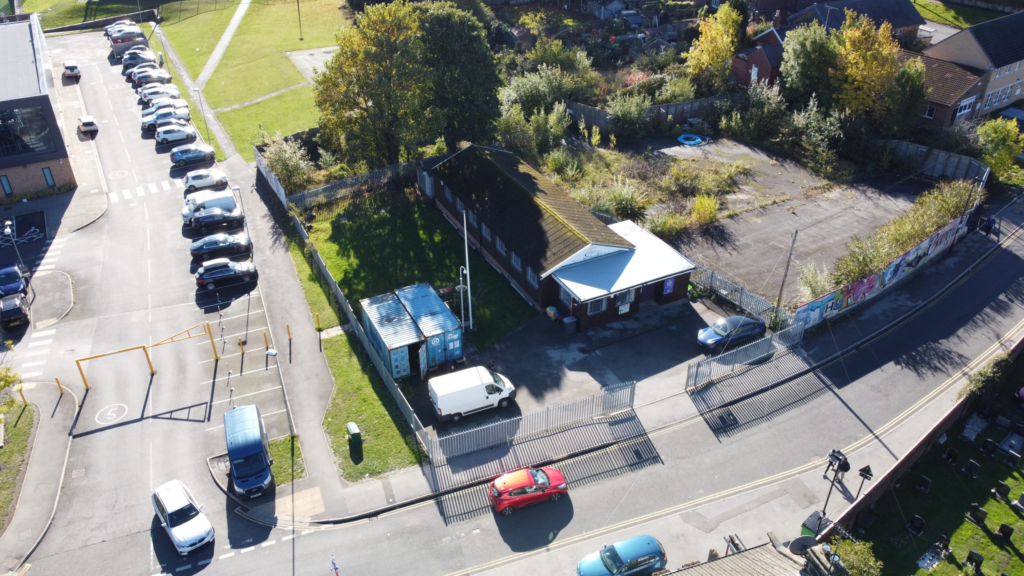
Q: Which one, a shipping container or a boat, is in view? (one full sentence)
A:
It is a shipping container that can be seen here.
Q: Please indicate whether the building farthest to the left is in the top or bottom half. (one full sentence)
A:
Seen from above, the building farthest to the left lies in the top half of the view.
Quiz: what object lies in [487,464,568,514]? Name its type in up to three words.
car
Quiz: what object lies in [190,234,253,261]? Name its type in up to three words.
car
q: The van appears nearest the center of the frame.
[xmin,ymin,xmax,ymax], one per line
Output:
[428,362,521,422]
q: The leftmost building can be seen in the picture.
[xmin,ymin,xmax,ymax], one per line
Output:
[0,11,80,199]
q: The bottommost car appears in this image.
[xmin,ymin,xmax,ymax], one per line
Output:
[578,526,667,576]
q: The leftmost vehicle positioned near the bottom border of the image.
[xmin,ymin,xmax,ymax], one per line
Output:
[152,477,216,557]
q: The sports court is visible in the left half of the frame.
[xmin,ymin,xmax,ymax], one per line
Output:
[286,46,374,85]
